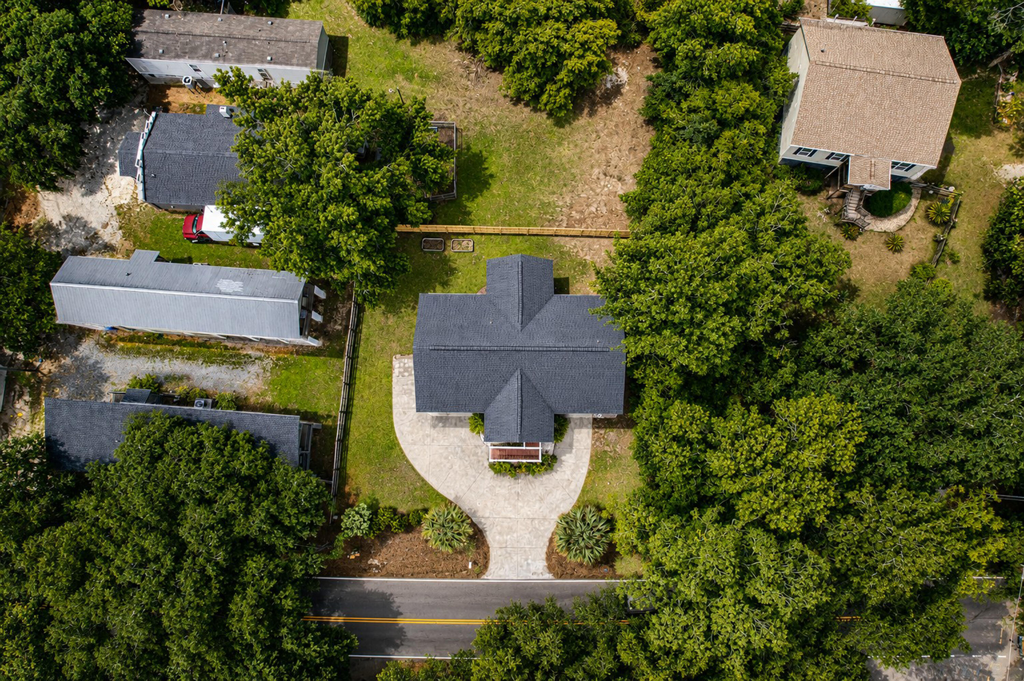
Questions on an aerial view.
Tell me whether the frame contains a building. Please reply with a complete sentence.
Yes, looking at the shot, I can spot a building.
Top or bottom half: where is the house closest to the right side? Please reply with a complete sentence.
The house closest to the right side is in the top half of the image.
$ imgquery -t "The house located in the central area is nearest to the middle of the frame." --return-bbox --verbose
[412,254,628,463]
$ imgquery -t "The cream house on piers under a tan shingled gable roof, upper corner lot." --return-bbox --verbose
[773,18,962,250]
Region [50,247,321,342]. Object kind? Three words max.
house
